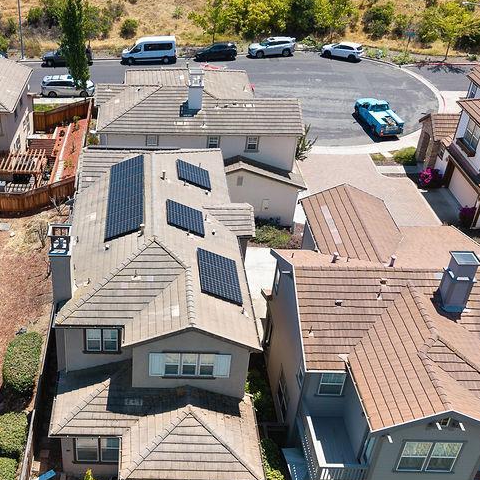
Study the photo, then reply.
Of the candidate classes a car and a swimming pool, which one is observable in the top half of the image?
car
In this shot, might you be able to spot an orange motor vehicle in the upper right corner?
No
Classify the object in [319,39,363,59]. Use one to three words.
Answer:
car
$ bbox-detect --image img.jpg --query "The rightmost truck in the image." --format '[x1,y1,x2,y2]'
[358,100,406,135]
